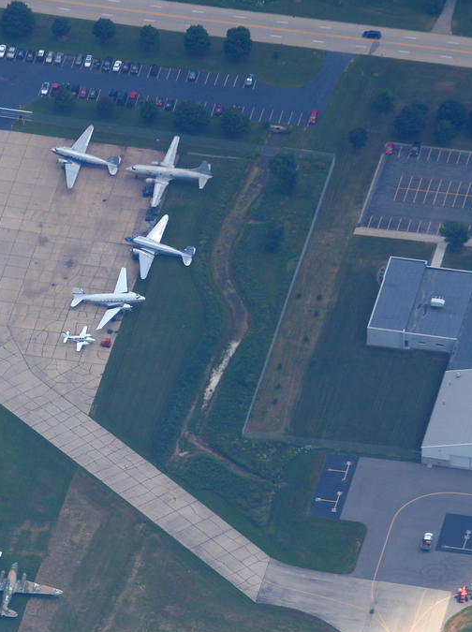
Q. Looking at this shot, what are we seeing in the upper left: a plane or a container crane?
plane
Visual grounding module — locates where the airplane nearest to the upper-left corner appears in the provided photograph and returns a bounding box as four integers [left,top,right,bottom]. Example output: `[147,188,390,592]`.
[52,126,120,187]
